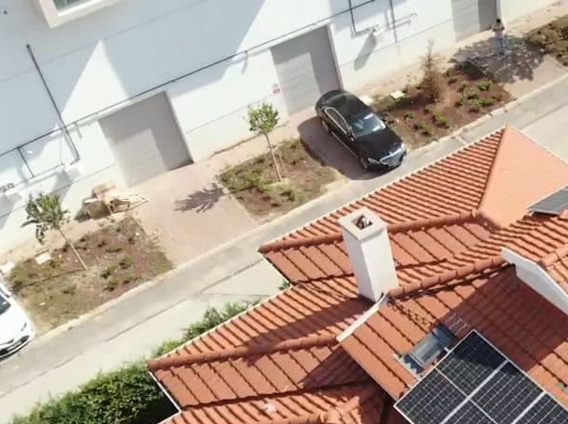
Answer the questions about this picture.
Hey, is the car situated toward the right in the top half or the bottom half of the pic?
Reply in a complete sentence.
The top half of the photo is where the car situated toward the right is.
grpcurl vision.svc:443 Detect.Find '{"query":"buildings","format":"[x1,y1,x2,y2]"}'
[0,0,548,243]
[135,121,568,424]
